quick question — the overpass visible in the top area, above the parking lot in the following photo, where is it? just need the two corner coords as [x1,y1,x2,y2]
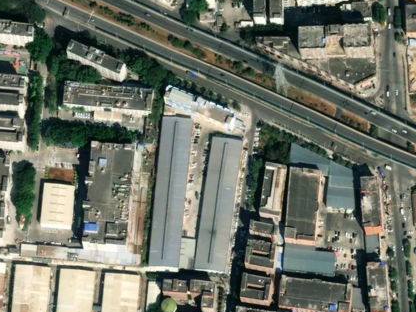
[98,0,416,146]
